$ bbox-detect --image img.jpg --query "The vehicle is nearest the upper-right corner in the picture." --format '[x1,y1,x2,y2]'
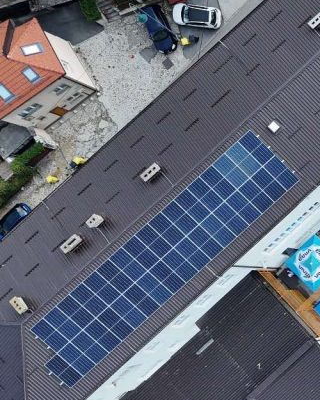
[172,0,224,33]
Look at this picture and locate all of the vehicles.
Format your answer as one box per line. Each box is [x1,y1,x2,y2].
[172,0,224,33]
[141,6,179,58]
[0,199,34,236]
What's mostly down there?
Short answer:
buildings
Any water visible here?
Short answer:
No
